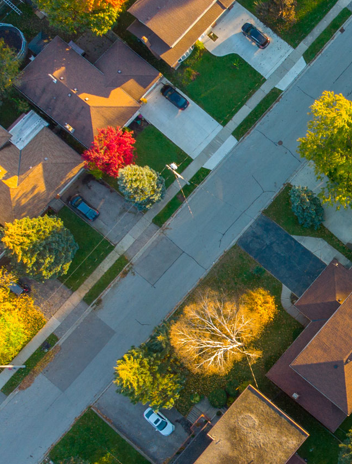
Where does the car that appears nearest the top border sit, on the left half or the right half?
right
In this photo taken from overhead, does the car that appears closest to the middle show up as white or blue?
blue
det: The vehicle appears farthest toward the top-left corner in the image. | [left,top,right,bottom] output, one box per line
[158,83,192,113]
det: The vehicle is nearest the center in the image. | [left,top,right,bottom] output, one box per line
[67,192,103,225]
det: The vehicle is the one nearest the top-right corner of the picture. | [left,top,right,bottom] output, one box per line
[241,22,274,52]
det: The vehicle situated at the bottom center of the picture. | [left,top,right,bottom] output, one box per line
[140,404,179,438]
